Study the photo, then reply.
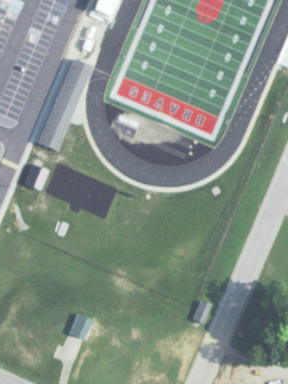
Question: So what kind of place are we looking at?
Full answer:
What you see here is a sports ground.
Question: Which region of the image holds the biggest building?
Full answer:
The biggest building sits in the top left section of the image.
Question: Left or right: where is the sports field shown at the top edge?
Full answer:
The sports field shown at the top edge appears in the right half of the scene.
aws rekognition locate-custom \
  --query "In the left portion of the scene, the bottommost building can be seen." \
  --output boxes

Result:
[68,314,94,342]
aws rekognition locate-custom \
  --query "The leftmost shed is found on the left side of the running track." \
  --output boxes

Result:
[24,163,49,190]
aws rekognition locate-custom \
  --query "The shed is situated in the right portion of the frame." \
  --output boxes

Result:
[192,301,213,325]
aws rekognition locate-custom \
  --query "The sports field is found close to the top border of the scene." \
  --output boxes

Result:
[104,0,282,148]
